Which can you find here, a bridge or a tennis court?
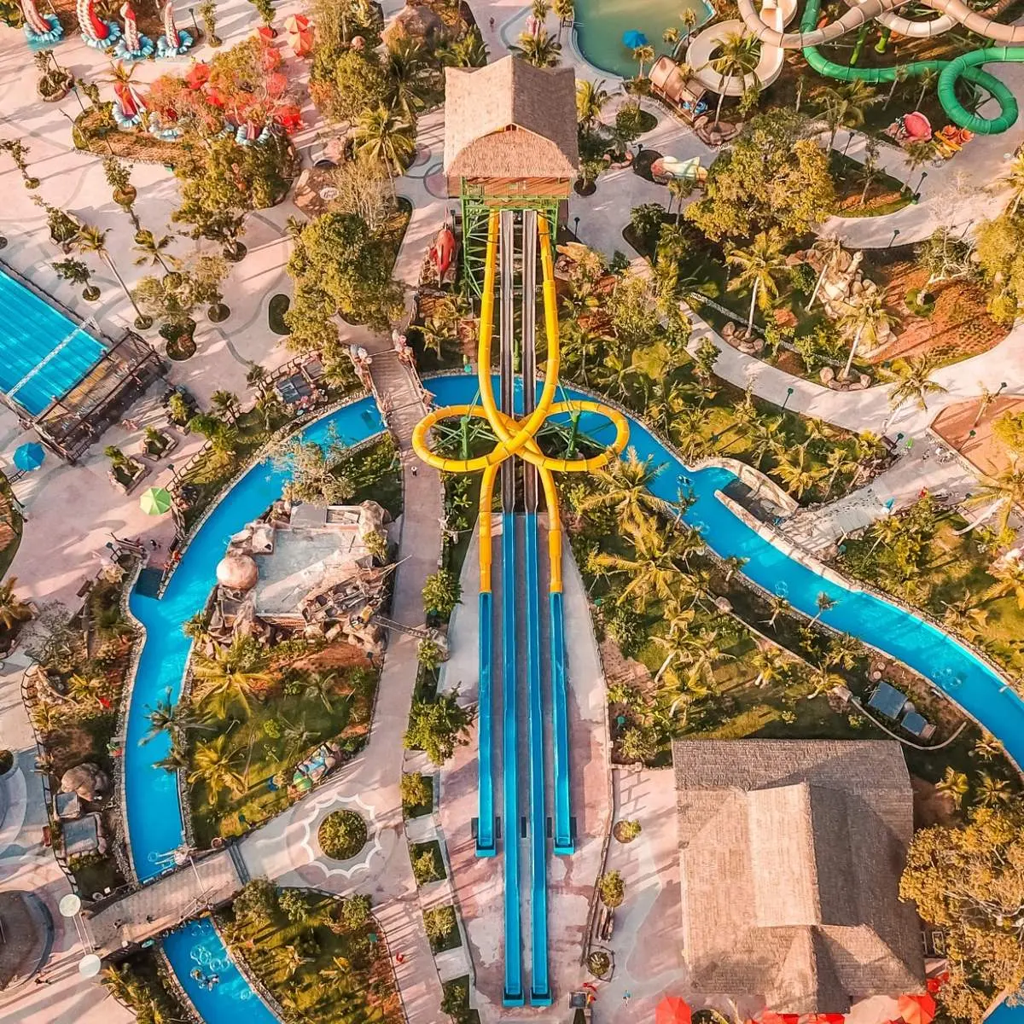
bridge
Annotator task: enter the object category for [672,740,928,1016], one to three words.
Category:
building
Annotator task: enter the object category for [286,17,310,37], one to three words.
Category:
umbrella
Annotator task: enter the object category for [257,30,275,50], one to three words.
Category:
umbrella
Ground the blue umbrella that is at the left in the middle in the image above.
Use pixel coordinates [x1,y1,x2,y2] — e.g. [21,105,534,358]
[14,445,46,473]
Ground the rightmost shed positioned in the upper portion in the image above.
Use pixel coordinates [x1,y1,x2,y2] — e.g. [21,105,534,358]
[643,45,707,128]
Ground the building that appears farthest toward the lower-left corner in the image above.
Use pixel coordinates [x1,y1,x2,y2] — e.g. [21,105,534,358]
[0,884,55,999]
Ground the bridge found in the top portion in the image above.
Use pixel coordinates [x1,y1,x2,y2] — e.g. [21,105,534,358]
[360,336,436,452]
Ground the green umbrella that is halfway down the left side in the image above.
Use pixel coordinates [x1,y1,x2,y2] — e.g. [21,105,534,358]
[141,489,171,516]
